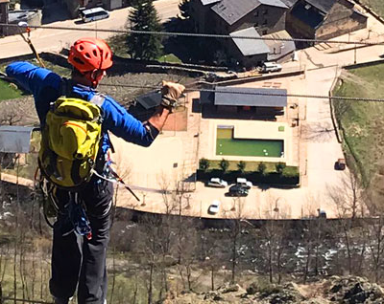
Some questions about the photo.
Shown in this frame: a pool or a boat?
pool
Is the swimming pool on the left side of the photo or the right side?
right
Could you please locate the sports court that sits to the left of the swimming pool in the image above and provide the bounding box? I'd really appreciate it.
[166,102,189,131]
